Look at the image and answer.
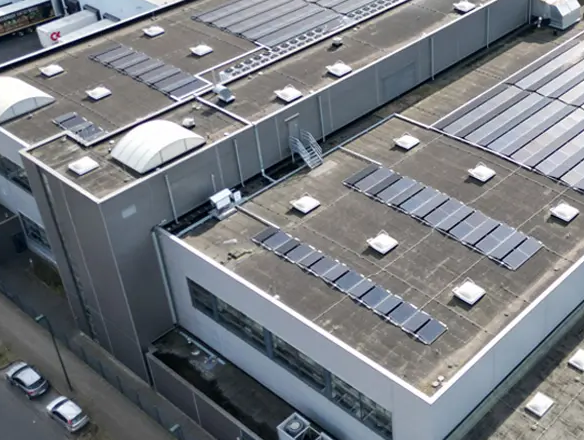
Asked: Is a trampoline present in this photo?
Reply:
No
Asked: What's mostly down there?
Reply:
buildings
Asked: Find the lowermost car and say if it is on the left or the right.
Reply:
left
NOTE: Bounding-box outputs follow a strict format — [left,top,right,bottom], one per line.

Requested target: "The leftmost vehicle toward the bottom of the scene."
[7,364,47,399]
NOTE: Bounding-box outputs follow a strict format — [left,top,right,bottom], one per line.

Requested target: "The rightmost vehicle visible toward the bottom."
[47,399,88,434]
